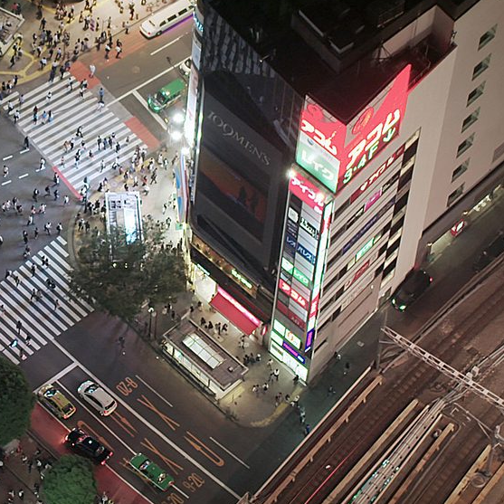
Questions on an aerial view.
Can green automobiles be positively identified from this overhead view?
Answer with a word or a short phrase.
Yes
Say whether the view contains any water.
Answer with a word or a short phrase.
No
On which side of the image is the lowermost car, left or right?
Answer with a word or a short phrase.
left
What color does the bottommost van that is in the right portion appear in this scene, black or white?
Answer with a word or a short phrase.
black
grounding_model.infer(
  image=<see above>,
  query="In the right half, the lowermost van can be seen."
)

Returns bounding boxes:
[392,262,437,308]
